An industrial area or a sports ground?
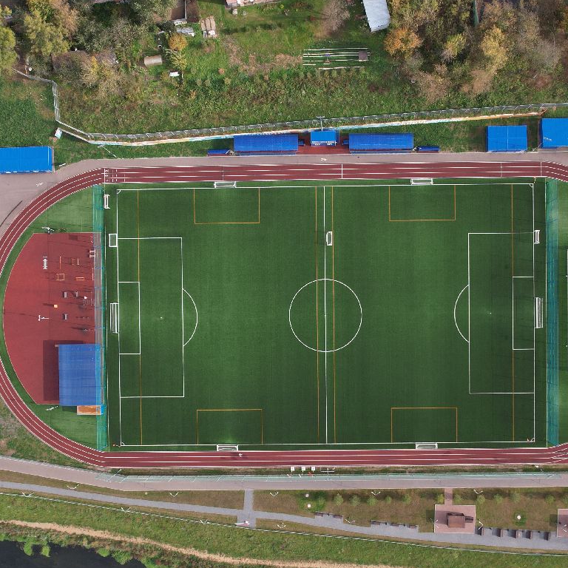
sports ground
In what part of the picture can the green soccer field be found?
center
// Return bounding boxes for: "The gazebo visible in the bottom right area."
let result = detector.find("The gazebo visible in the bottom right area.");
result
[445,513,465,528]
